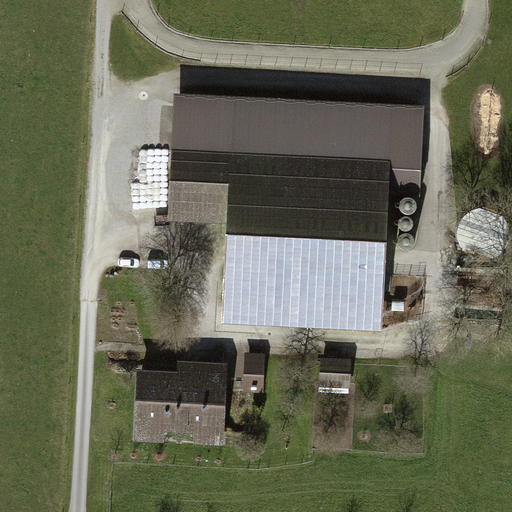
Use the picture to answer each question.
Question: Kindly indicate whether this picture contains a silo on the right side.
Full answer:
Yes, there is a silo on the right side.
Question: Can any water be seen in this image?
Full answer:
No, water can't be seen anywhere here.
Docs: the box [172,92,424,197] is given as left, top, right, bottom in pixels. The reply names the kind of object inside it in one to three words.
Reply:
barn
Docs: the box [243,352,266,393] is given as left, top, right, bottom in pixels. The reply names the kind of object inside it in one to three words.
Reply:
shed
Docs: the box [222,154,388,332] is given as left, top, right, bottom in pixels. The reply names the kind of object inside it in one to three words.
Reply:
barn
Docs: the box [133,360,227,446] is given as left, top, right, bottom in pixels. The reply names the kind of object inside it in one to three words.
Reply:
house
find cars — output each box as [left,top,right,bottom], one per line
[148,258,168,269]
[118,256,138,268]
